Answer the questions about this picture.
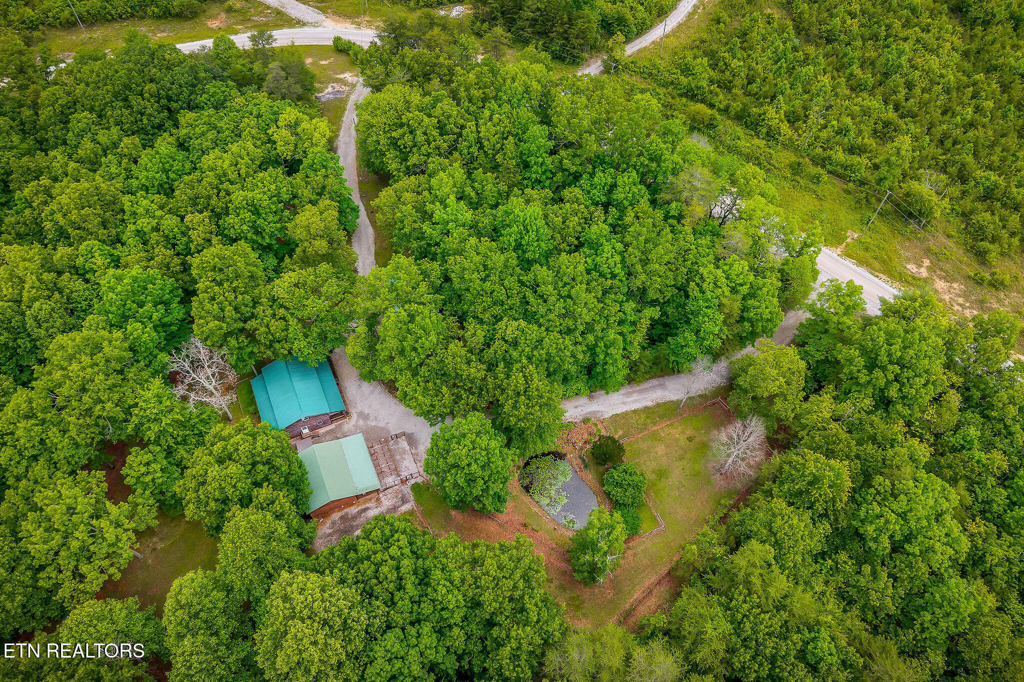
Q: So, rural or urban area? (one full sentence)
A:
The area shown here is rural.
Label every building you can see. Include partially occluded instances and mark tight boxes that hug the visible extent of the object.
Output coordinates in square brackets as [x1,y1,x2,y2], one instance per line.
[295,433,381,518]
[251,353,348,440]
